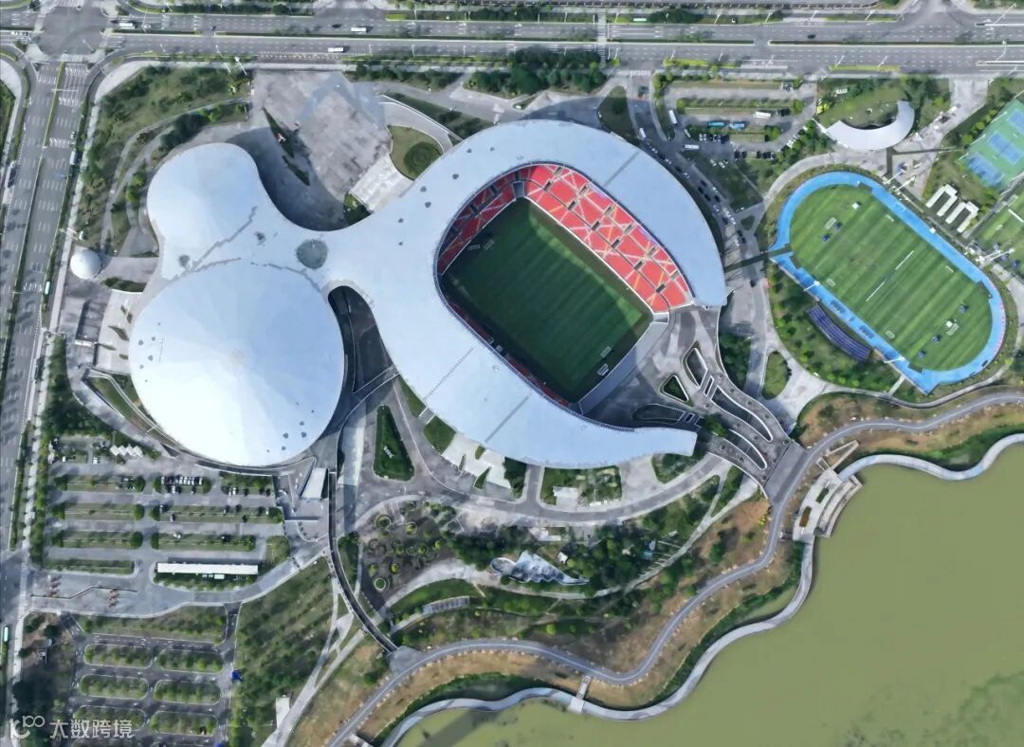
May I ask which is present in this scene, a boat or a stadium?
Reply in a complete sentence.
Looking from above, you can make out a stadium.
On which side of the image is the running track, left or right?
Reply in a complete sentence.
The running track is on the right side of the image.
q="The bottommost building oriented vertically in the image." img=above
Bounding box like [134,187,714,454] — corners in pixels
[275,695,292,730]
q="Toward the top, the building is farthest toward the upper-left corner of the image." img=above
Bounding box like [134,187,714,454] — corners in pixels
[71,249,105,280]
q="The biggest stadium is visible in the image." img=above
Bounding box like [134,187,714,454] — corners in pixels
[129,119,725,469]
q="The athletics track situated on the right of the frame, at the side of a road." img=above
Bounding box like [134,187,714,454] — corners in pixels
[769,170,1006,394]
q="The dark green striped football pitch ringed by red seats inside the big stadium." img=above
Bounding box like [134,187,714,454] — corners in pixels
[437,192,659,408]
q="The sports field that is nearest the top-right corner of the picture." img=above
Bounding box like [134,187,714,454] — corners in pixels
[968,182,1024,282]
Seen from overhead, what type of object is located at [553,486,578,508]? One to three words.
building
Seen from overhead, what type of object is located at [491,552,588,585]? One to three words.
building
